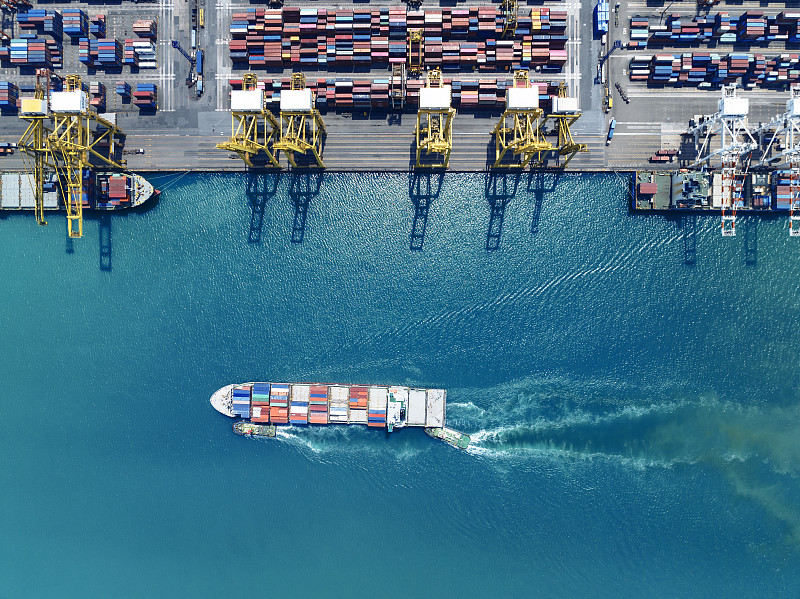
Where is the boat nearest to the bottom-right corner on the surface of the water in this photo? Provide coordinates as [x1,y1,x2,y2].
[424,426,472,449]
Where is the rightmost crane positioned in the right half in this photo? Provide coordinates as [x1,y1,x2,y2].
[742,71,800,240]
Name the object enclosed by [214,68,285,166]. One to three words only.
container crane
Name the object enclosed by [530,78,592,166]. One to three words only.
container crane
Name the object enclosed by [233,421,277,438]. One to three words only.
boat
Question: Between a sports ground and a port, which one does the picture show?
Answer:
port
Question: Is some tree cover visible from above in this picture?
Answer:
No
